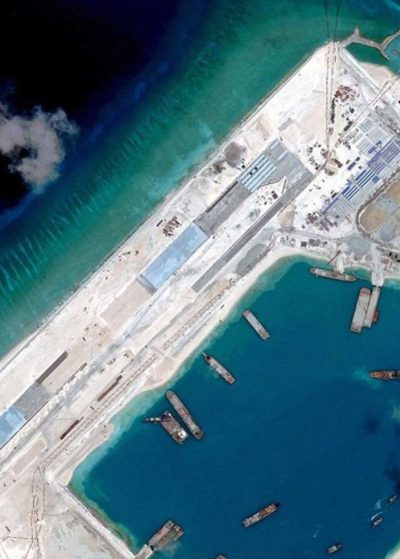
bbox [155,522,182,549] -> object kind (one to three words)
ship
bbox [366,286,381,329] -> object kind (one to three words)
ship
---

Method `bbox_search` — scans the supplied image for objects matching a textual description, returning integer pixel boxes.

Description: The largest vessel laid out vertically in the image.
[350,287,371,334]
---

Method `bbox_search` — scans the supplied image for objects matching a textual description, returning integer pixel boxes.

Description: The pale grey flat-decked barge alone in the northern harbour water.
[242,308,271,341]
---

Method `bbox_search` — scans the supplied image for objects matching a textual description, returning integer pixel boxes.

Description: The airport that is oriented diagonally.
[0,138,315,451]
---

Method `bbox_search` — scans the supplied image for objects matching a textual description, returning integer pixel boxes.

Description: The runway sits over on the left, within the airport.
[0,154,275,451]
